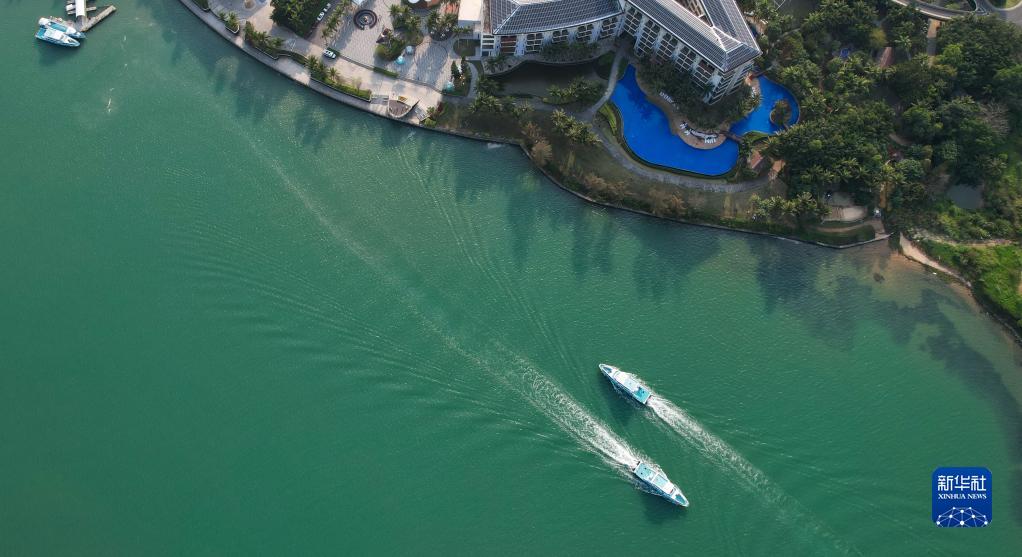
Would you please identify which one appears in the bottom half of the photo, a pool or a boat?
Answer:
boat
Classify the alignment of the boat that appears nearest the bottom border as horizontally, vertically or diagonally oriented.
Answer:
diagonally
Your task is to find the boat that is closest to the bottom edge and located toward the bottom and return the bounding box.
[633,459,689,506]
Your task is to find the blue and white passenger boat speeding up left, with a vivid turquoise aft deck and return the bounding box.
[600,364,651,407]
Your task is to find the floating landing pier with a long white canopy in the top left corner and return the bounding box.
[53,0,119,35]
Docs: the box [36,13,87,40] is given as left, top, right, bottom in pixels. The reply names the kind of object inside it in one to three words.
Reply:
boat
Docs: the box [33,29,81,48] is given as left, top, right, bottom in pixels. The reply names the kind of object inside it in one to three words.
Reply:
boat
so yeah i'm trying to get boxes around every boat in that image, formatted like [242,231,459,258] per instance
[600,364,651,407]
[33,29,81,48]
[63,3,76,11]
[633,459,689,506]
[36,13,87,40]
